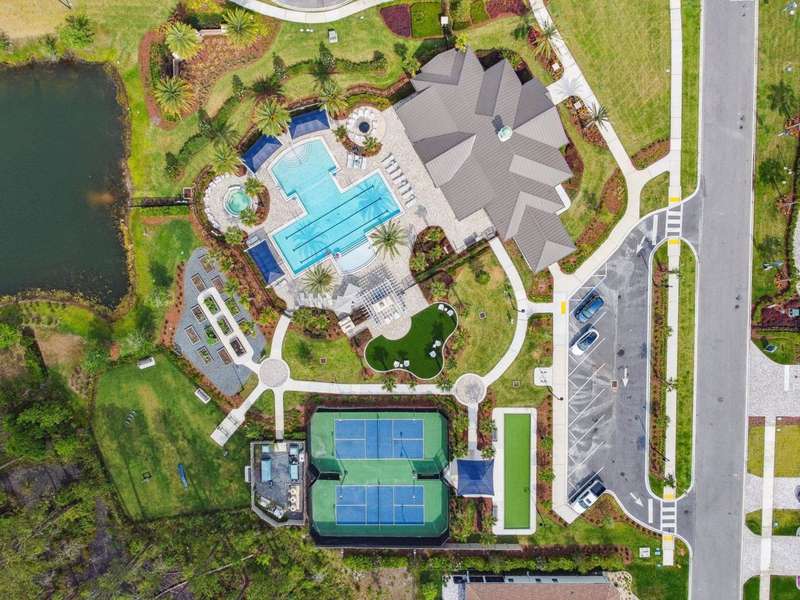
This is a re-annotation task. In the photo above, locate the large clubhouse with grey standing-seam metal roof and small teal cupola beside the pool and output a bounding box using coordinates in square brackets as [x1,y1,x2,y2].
[393,45,577,272]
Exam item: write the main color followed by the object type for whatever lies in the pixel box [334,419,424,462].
blue sports court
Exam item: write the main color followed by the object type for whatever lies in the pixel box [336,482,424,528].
blue sports court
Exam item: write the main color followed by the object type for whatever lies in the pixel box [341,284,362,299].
white umbrella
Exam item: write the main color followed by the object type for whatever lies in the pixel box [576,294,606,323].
blue car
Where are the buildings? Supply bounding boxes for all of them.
[464,569,615,600]
[393,45,577,272]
